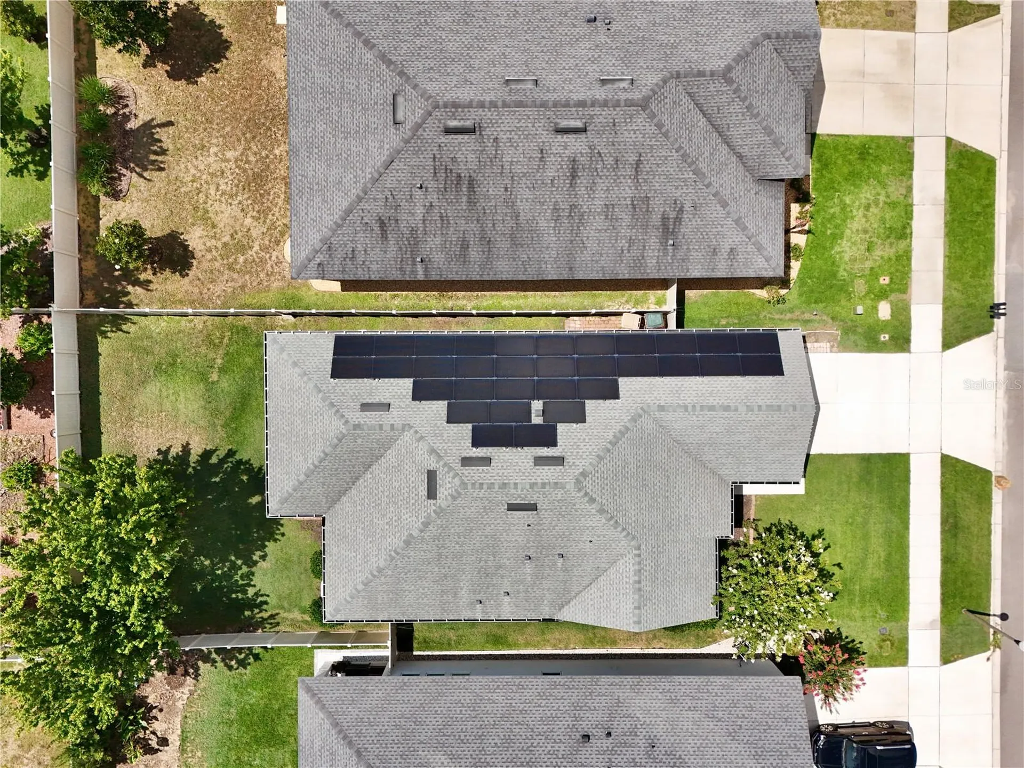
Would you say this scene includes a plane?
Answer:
No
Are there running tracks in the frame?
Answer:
No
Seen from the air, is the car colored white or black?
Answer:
black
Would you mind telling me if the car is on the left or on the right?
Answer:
right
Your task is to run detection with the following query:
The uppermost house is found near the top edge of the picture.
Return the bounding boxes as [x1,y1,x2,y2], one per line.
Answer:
[289,0,821,282]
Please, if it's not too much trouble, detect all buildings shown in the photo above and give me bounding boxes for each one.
[264,326,818,632]
[295,659,813,768]
[289,0,821,282]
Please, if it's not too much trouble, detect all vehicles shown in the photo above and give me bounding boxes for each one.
[808,721,914,768]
